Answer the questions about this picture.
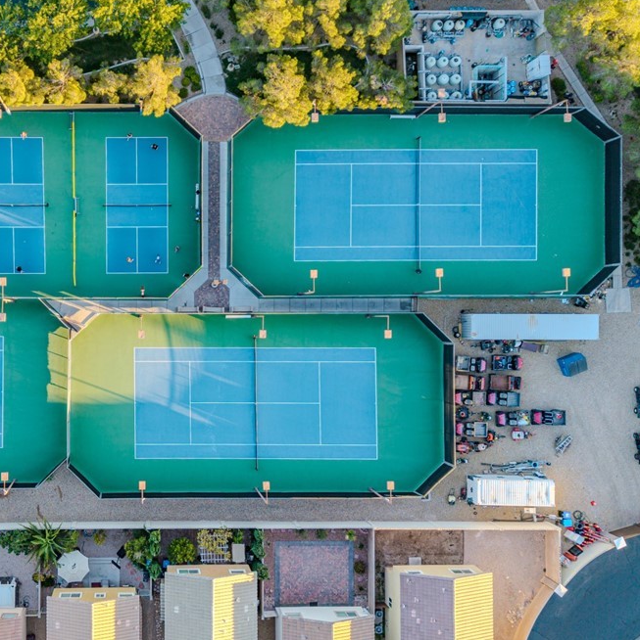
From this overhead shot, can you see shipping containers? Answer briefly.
Yes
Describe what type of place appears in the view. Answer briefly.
sports ground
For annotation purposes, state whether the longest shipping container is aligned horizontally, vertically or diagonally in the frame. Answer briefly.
horizontally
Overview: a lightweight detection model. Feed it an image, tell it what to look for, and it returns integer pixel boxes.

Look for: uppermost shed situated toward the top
[518,53,554,85]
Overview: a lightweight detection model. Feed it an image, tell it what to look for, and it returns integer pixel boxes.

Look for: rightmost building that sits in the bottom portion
[390,568,496,640]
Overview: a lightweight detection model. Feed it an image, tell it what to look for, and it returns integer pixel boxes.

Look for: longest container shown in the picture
[460,314,599,340]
